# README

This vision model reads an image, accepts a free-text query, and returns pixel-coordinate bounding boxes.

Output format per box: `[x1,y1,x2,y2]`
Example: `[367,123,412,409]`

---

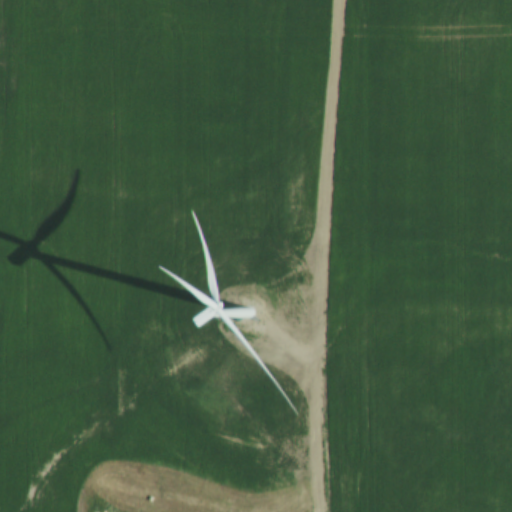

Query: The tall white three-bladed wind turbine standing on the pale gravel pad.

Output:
[160,210,298,414]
